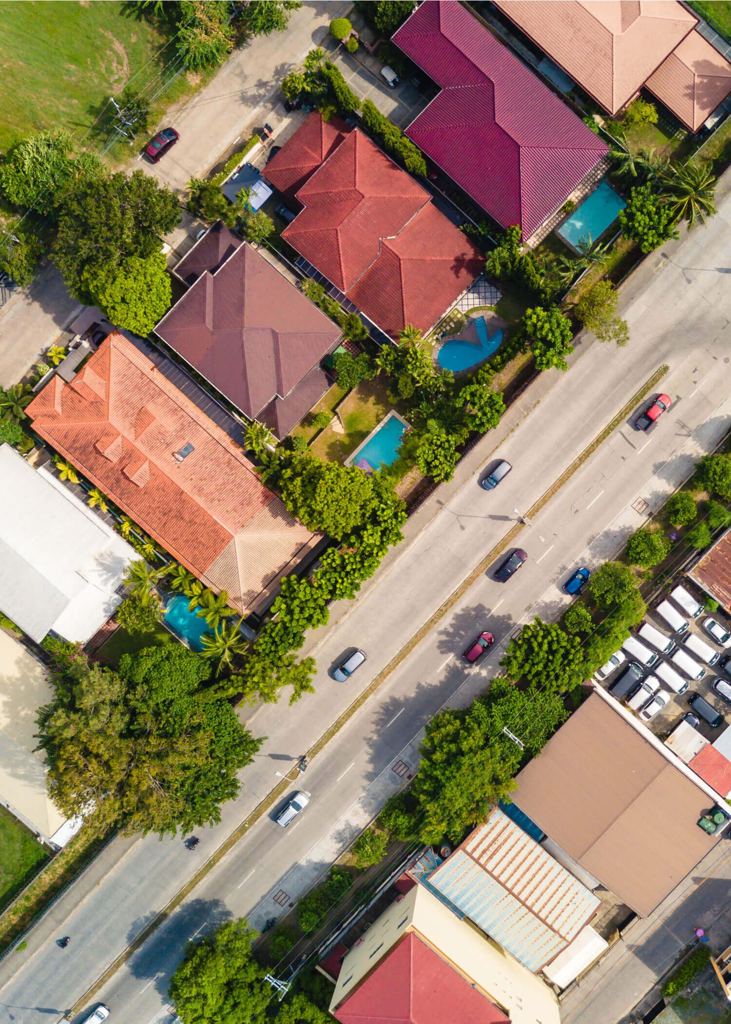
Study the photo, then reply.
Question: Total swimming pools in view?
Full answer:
The count of swimming pools comes to 4.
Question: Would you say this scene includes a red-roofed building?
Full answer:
Yes, looking at the shot, I can spot a red-roofed building.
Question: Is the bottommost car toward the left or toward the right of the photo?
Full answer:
The bottommost car sits on the left side.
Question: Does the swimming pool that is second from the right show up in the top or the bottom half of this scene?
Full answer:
You can find the swimming pool that is second from the right in the top half.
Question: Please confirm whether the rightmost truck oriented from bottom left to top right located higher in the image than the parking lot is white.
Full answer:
No, from above the rightmost truck oriented from bottom left to top right located higher in the image than the parking lot looks red.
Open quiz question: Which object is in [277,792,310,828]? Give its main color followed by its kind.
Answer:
white car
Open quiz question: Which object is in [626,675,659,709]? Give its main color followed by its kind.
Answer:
white vehicle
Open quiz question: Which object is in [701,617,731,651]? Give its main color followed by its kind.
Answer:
white car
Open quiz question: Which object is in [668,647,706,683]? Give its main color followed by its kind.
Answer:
white van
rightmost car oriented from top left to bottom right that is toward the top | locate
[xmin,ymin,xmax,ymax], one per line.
[407,74,437,104]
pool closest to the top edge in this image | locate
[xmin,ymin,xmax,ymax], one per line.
[554,178,630,254]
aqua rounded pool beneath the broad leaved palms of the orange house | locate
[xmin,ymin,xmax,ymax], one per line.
[159,592,227,656]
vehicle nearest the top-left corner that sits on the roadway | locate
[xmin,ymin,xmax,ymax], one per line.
[143,130,181,166]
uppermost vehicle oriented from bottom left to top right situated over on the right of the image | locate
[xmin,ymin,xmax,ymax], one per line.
[635,393,672,432]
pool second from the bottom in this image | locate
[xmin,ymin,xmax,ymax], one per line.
[343,410,412,481]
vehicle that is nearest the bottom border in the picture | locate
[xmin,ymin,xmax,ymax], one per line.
[80,1001,111,1024]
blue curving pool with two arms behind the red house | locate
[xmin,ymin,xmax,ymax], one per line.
[436,315,505,372]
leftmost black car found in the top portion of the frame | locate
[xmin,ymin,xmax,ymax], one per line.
[88,329,108,347]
